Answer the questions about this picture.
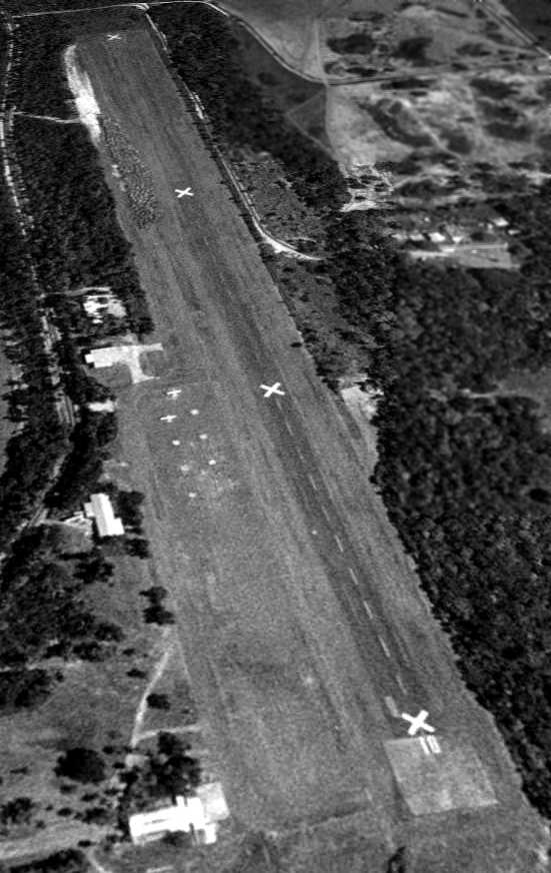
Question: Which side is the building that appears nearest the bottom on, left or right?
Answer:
left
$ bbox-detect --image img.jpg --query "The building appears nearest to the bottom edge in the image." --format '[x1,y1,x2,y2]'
[128,793,218,847]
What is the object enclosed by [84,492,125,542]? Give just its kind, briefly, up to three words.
shed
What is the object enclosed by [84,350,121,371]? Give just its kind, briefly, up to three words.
hangar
